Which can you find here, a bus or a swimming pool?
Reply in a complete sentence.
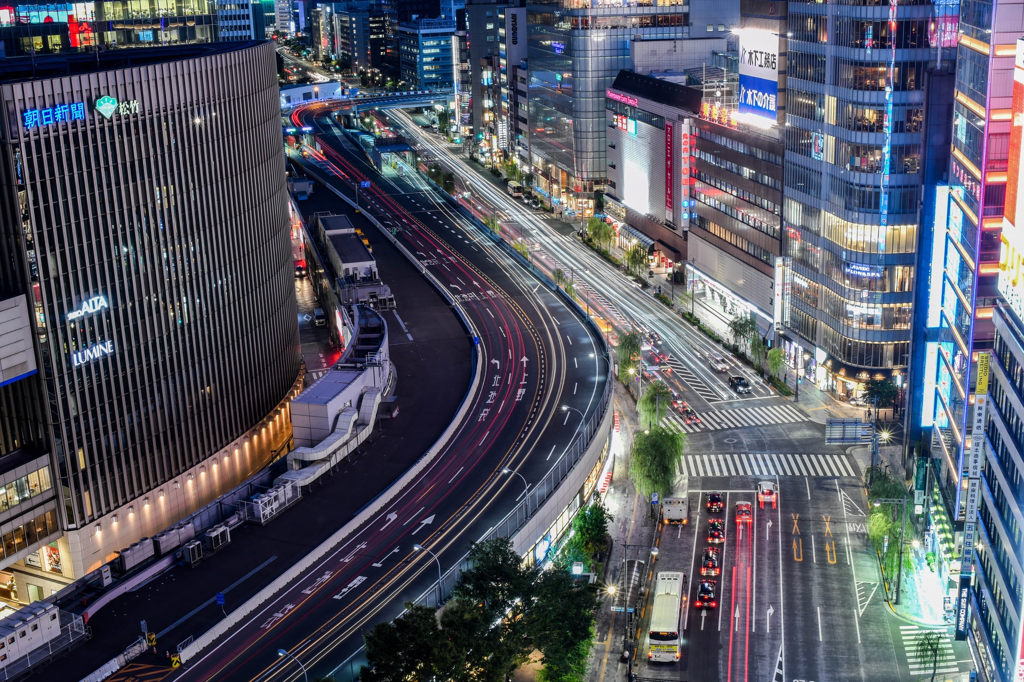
I can see a bus in this picture.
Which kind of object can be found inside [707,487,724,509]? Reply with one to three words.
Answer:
car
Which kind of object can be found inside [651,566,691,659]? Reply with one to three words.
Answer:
bus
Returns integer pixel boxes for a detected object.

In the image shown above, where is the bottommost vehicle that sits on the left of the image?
[313,307,326,325]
